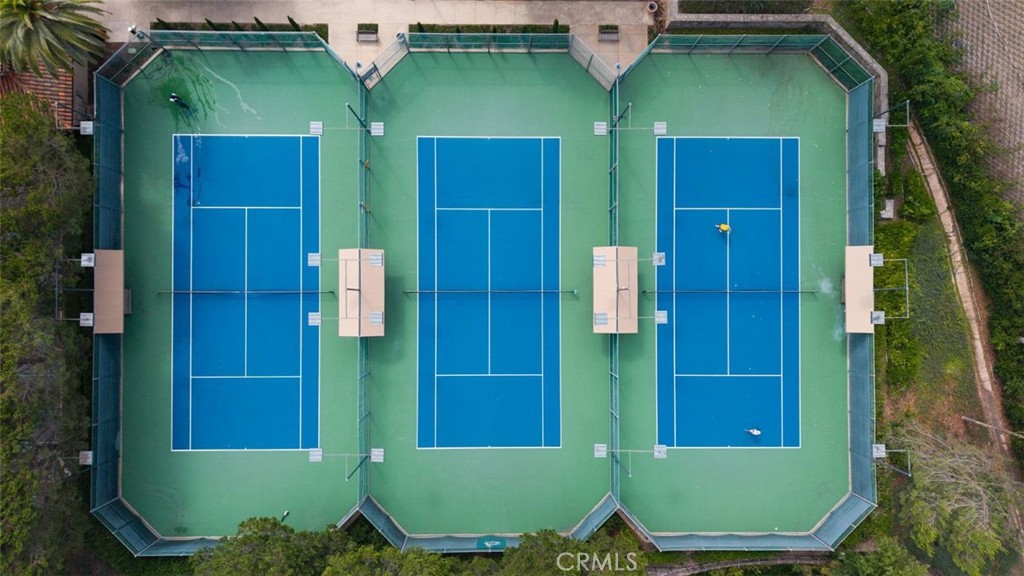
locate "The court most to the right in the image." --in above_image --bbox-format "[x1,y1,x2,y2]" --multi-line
[609,54,847,530]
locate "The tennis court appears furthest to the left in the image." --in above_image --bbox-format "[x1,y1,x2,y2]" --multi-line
[124,51,370,534]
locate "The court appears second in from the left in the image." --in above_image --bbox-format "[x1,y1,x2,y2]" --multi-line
[369,54,610,532]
